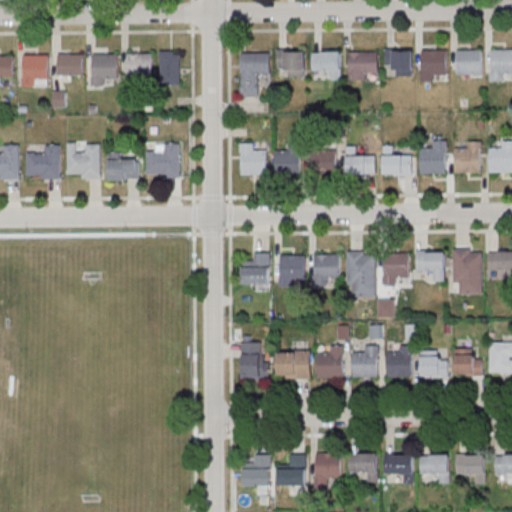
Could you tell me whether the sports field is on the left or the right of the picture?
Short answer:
left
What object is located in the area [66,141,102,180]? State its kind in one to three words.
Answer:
house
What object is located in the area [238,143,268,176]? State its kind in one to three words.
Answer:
house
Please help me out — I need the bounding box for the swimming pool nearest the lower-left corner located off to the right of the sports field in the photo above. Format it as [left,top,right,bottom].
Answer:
[238,493,252,508]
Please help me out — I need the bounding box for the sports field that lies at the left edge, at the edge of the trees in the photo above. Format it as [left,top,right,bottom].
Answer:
[0,226,204,512]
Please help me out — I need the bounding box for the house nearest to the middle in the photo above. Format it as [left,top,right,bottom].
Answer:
[240,252,271,292]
